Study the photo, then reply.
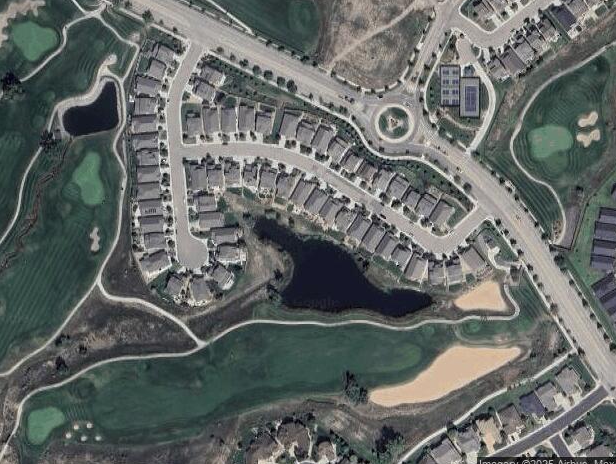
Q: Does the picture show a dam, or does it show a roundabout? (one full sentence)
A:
There is a roundabout in the scene.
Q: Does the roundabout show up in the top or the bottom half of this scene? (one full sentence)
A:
The roundabout sits in the top half of the picture.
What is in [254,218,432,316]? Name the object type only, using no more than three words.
pond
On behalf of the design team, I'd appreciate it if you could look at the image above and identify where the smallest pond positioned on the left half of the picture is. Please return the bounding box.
[62,79,120,135]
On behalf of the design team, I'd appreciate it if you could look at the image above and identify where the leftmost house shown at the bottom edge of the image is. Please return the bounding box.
[247,434,278,464]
